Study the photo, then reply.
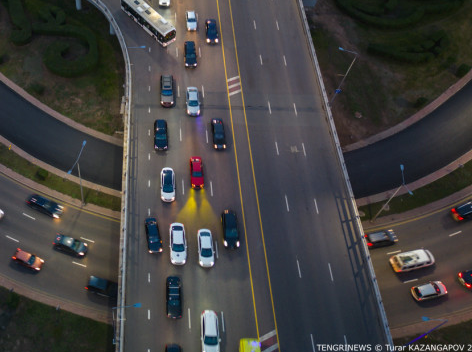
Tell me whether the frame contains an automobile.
Yes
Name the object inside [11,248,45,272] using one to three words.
car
